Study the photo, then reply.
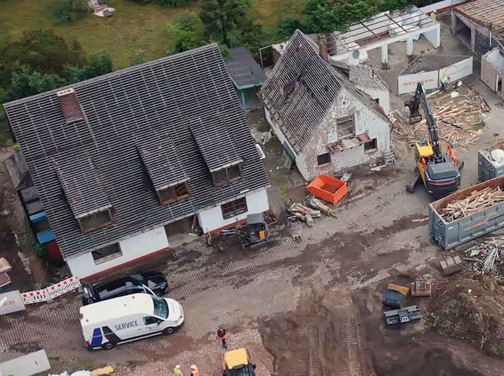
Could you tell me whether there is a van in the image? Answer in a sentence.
Yes, the image includes a van.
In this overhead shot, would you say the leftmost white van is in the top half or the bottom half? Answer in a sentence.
It is in the bottom half that the leftmost white van appears.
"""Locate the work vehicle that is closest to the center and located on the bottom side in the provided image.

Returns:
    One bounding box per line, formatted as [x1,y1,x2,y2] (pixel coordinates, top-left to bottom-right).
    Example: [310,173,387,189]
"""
[213,211,272,253]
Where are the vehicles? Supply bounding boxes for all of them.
[213,211,272,253]
[210,348,255,376]
[88,268,165,308]
[410,81,466,203]
[86,294,187,350]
